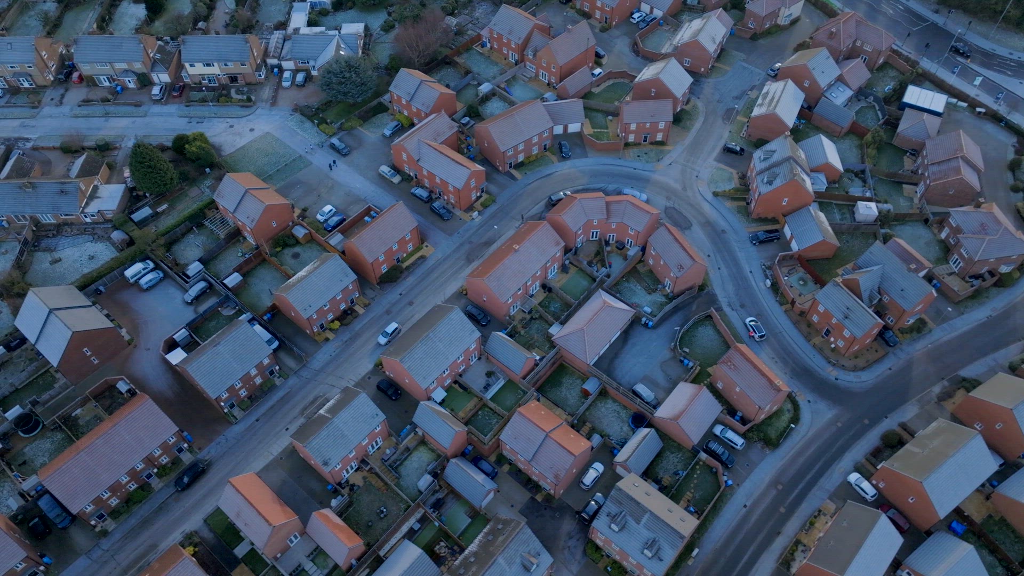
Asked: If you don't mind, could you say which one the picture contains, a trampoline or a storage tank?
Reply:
trampoline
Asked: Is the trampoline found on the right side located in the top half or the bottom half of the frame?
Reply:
bottom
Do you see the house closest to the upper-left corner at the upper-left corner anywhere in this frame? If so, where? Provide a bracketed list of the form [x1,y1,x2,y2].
[0,35,63,87]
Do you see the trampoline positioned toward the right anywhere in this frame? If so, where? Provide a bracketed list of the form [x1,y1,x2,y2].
[623,402,654,432]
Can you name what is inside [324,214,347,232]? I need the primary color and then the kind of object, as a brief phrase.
blue car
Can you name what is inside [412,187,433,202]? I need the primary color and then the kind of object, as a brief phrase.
blue car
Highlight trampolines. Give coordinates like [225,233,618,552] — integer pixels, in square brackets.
[5,407,42,439]
[623,402,654,432]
